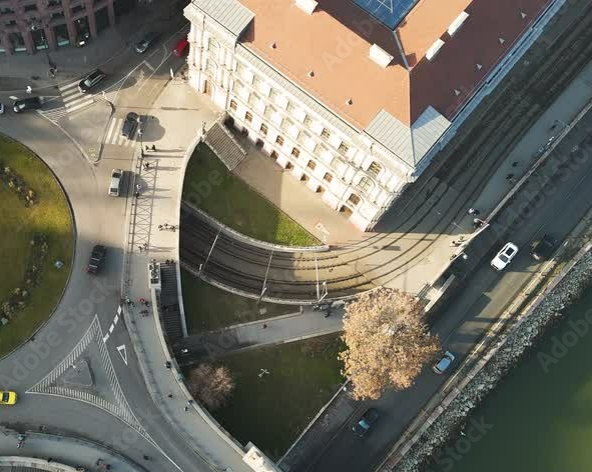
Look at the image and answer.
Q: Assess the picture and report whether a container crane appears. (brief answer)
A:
No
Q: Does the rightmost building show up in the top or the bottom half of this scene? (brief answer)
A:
top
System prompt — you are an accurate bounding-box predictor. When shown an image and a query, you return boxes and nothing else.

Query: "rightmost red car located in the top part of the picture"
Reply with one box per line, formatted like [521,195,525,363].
[172,32,190,55]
